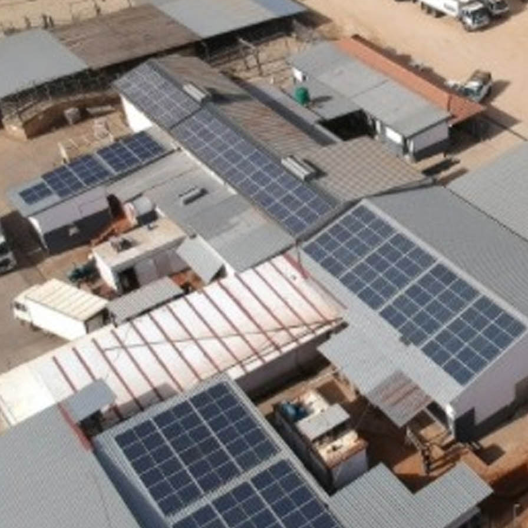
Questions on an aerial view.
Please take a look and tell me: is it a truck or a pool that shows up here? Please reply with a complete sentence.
It is a truck that can be seen here.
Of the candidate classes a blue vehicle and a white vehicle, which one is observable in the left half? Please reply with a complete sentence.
The feature located in the left half is a white vehicle.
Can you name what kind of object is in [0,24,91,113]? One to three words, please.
shed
